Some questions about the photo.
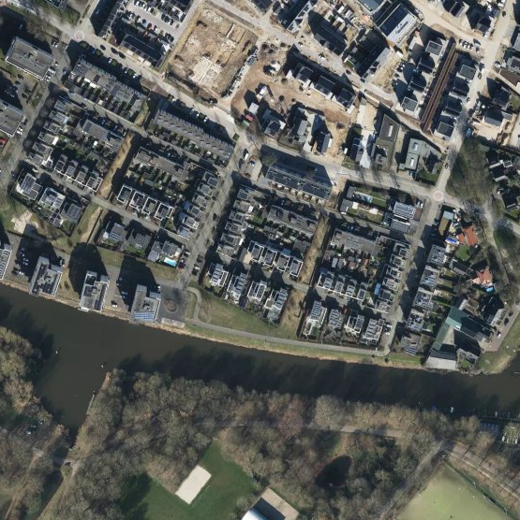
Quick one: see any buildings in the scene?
Yes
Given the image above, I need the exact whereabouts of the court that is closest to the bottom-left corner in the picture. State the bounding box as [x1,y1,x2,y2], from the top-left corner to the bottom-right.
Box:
[175,465,211,505]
